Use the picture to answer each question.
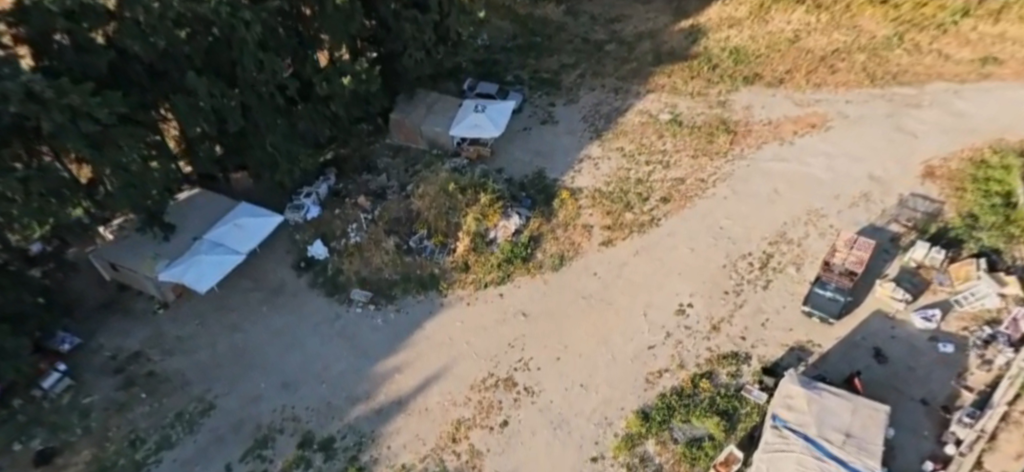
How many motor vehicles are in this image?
2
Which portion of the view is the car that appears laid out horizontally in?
top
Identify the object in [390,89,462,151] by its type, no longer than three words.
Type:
shed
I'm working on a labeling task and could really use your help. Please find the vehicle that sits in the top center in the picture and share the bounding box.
[458,79,530,116]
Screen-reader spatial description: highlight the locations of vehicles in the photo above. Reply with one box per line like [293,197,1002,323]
[458,79,530,116]
[800,227,871,320]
